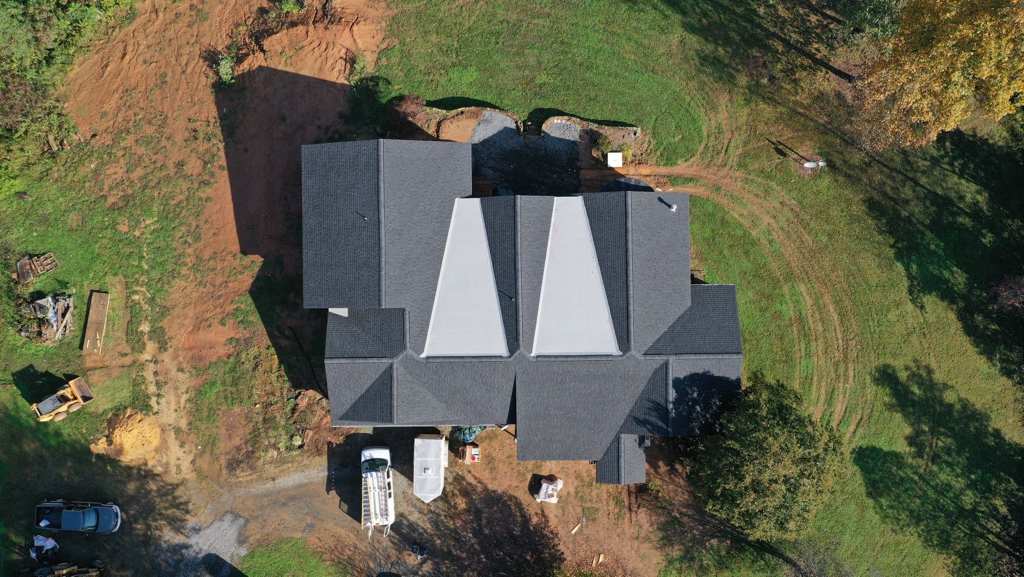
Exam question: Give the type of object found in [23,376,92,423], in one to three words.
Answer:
work vehicle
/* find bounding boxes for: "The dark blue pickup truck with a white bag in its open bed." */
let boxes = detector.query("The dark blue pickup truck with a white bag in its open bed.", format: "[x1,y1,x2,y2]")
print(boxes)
[38,502,125,540]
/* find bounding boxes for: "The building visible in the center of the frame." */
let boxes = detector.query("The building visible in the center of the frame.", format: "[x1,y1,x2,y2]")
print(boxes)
[302,137,744,486]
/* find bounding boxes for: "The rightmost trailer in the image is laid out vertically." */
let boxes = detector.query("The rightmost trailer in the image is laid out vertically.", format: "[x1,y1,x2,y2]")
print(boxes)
[415,429,450,508]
